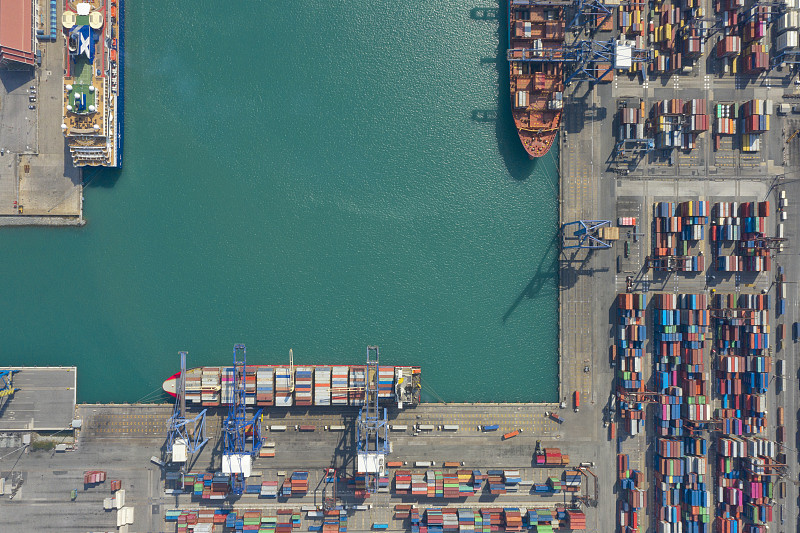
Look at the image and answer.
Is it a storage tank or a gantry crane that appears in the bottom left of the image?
gantry crane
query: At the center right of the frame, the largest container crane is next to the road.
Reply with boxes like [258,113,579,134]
[563,220,619,252]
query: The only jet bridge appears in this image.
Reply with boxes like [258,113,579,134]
[37,0,61,45]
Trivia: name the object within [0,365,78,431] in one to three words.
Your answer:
pier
